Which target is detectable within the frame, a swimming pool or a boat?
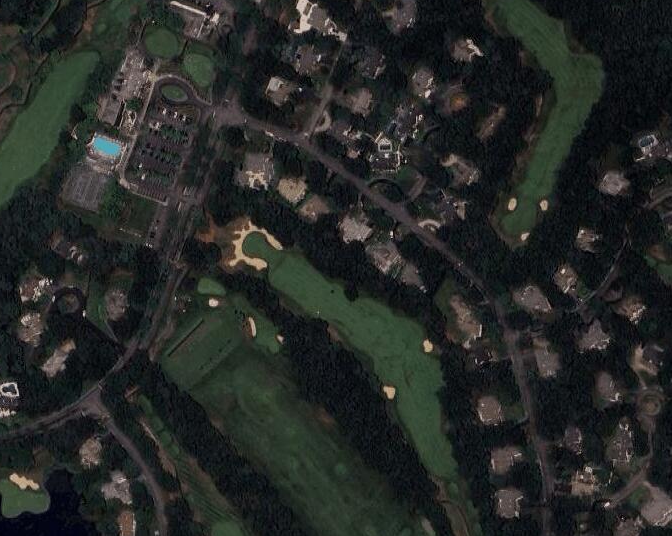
swimming pool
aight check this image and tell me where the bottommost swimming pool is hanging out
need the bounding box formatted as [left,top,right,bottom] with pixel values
[0,383,20,397]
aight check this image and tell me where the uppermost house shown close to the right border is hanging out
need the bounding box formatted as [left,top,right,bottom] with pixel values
[637,139,672,160]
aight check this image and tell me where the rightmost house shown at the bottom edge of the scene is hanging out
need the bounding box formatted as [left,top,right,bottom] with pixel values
[641,486,672,523]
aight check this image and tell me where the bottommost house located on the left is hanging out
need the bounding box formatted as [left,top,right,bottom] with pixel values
[118,513,136,536]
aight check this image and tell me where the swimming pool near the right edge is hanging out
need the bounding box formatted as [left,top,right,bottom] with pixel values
[640,134,656,147]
